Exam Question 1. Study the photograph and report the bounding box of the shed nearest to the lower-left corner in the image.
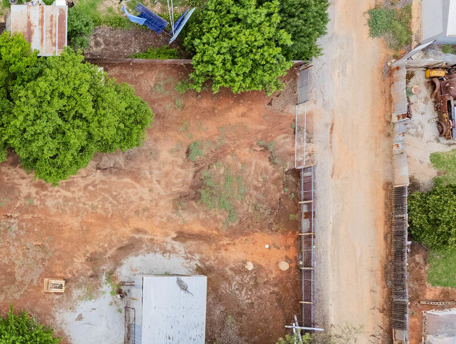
[128,274,208,344]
